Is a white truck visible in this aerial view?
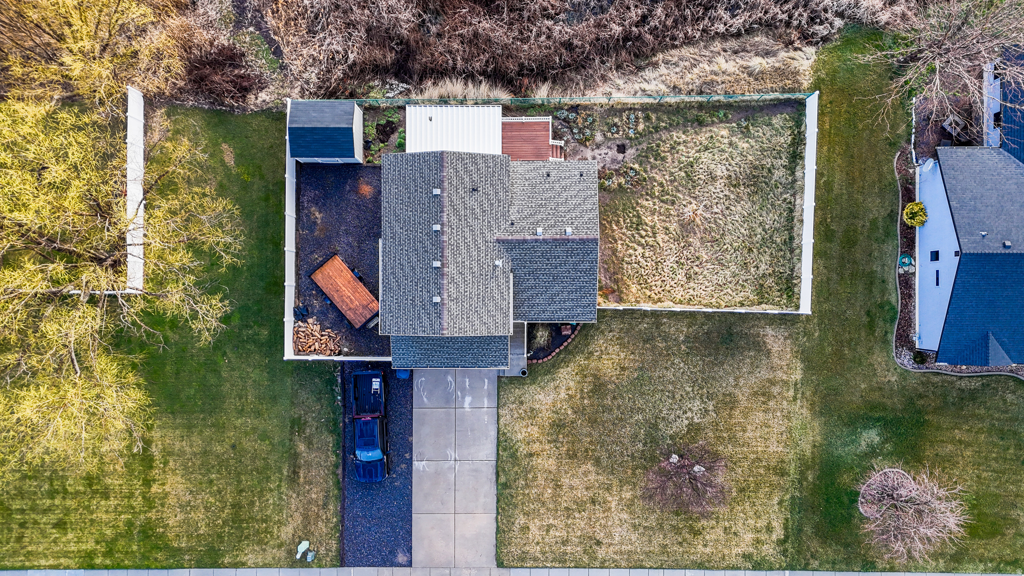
No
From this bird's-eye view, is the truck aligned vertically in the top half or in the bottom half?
bottom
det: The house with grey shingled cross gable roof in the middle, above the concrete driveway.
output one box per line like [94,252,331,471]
[378,150,601,372]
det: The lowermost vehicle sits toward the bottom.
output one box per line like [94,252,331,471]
[347,364,392,483]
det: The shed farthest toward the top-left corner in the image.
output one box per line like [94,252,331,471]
[284,99,364,163]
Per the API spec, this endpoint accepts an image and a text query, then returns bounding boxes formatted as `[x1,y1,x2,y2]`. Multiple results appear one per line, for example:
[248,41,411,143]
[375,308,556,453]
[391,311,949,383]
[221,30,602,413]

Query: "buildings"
[915,43,1024,367]
[378,150,601,372]
[284,99,364,163]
